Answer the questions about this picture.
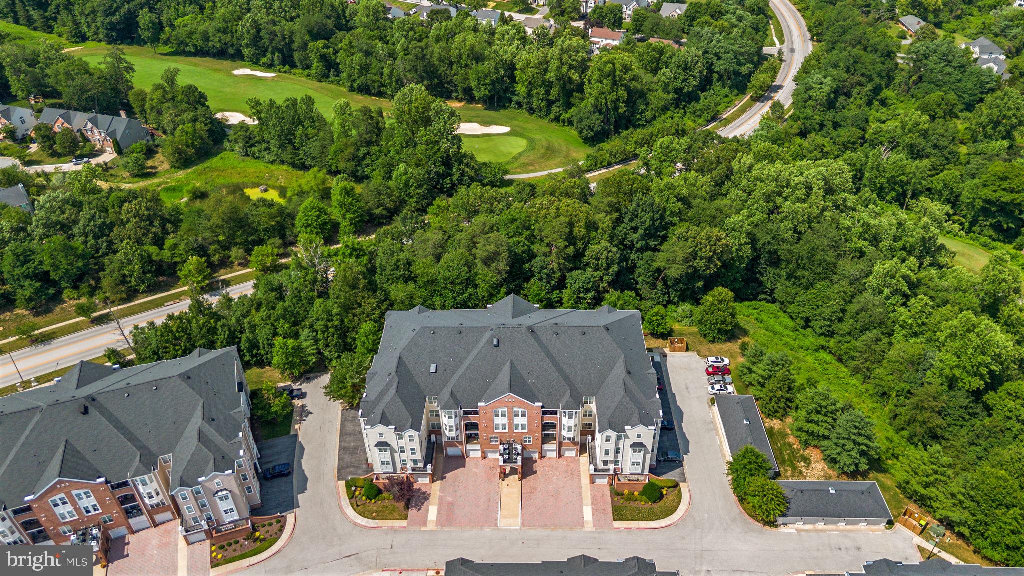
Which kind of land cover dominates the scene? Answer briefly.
trees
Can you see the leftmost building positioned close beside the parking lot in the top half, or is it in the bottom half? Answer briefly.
bottom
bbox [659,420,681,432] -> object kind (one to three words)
vehicle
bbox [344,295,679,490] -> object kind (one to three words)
building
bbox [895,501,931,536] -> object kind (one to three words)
building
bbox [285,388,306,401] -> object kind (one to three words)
vehicle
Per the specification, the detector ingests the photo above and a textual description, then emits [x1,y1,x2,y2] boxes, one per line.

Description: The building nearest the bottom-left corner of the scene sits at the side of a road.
[0,346,285,576]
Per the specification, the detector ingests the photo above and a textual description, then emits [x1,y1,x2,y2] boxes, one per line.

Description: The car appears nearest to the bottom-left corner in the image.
[261,465,290,481]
